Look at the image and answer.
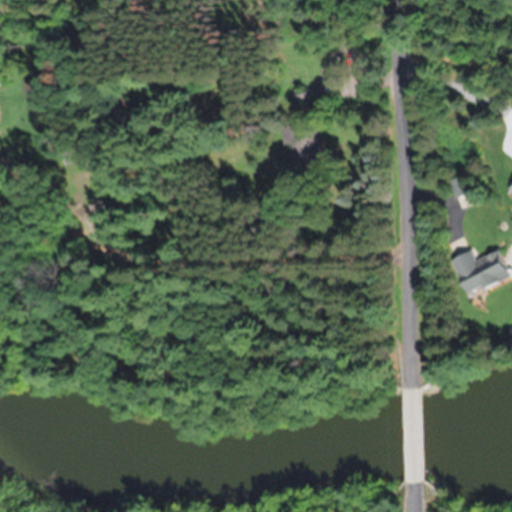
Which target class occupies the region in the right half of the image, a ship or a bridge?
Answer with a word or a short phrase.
bridge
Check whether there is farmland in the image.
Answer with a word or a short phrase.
No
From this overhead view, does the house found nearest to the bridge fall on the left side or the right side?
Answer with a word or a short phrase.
right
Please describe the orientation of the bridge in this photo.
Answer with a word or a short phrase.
from top to bottom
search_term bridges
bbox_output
[400,386,437,502]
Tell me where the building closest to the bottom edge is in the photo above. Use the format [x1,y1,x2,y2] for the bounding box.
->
[451,249,510,298]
